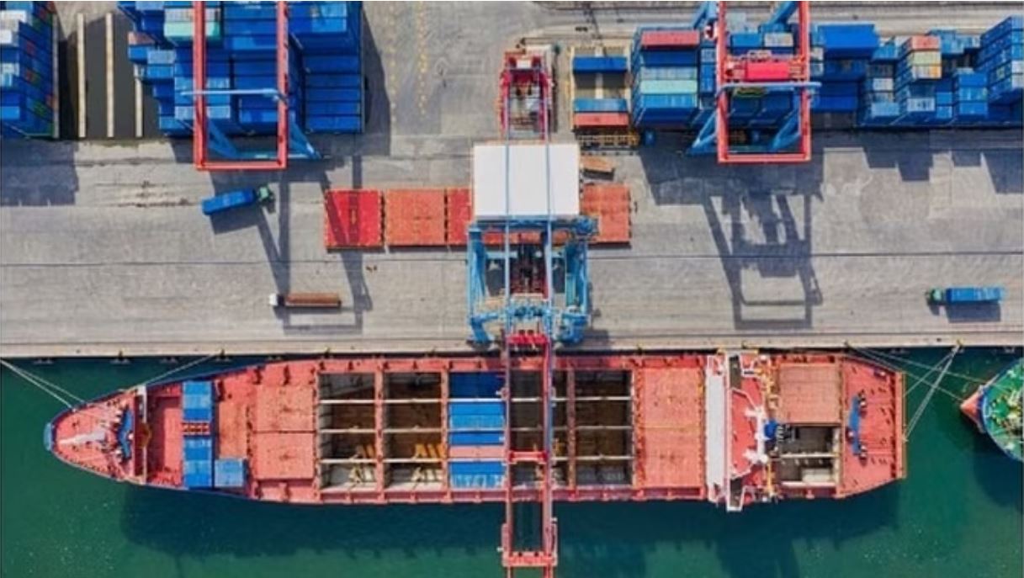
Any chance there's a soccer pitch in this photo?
No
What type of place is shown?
port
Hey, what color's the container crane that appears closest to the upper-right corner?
red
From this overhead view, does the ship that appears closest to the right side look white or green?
green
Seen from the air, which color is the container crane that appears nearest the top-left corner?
red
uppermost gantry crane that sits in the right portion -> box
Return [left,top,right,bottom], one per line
[678,0,821,167]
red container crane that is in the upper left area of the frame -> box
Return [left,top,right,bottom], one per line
[183,0,330,173]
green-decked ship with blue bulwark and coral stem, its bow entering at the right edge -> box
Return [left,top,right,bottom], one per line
[964,357,1024,469]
